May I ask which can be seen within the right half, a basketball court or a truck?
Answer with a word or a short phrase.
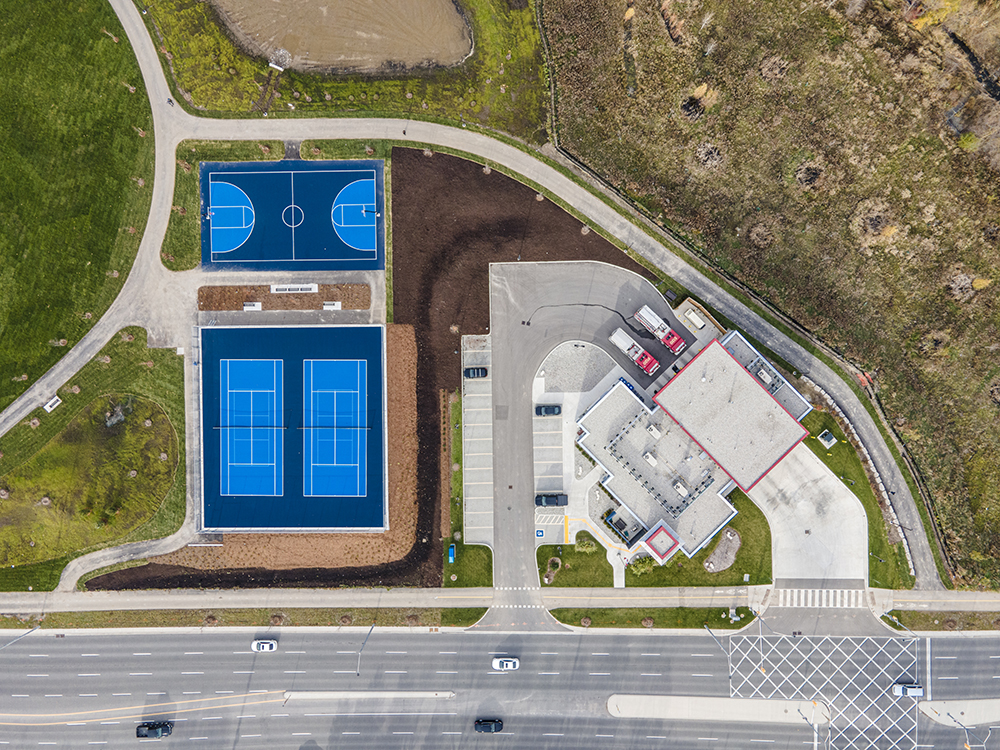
truck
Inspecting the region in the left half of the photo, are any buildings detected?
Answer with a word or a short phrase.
No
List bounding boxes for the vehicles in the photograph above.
[137,722,173,738]
[535,493,568,508]
[475,718,502,733]
[251,639,278,653]
[462,366,488,379]
[534,404,562,417]
[892,683,925,698]
[633,306,684,354]
[492,656,520,671]
[607,330,658,378]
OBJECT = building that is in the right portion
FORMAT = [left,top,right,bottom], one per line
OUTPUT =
[573,330,814,566]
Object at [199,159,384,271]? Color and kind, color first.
blue basketball court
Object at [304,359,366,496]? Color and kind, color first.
blue tennis court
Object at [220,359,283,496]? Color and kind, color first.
blue tennis court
